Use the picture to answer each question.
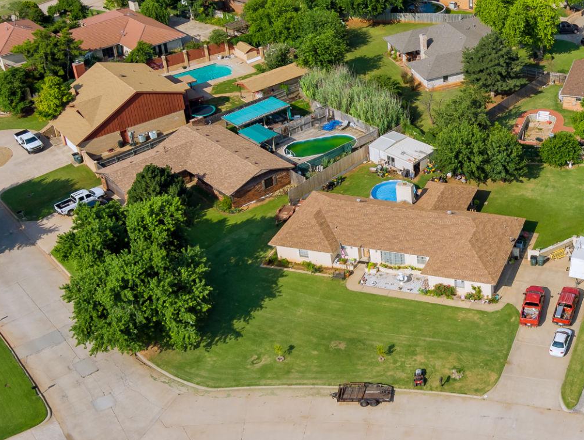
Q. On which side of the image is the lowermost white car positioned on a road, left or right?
right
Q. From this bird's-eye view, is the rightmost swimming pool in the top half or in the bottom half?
top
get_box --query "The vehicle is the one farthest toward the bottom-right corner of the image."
[550,326,575,361]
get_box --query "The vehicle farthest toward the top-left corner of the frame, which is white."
[15,129,42,152]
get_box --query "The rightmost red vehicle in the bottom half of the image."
[554,290,579,326]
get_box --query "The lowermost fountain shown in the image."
[393,269,413,286]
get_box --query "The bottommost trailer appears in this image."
[331,383,389,407]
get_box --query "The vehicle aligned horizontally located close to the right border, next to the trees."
[556,21,583,34]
